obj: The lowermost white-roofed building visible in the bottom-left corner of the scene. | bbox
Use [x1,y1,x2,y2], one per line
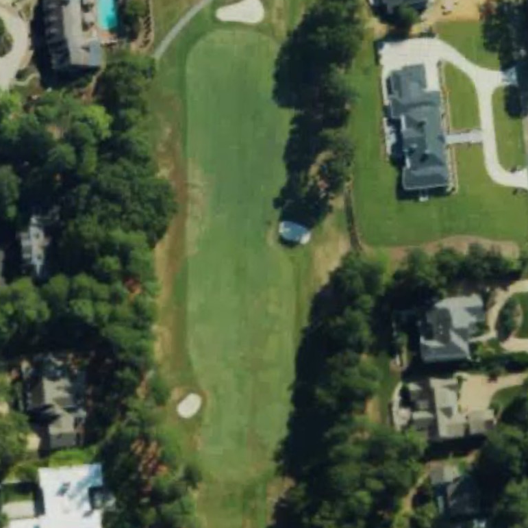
[11,465,112,528]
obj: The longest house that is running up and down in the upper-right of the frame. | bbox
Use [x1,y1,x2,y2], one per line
[389,62,450,198]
